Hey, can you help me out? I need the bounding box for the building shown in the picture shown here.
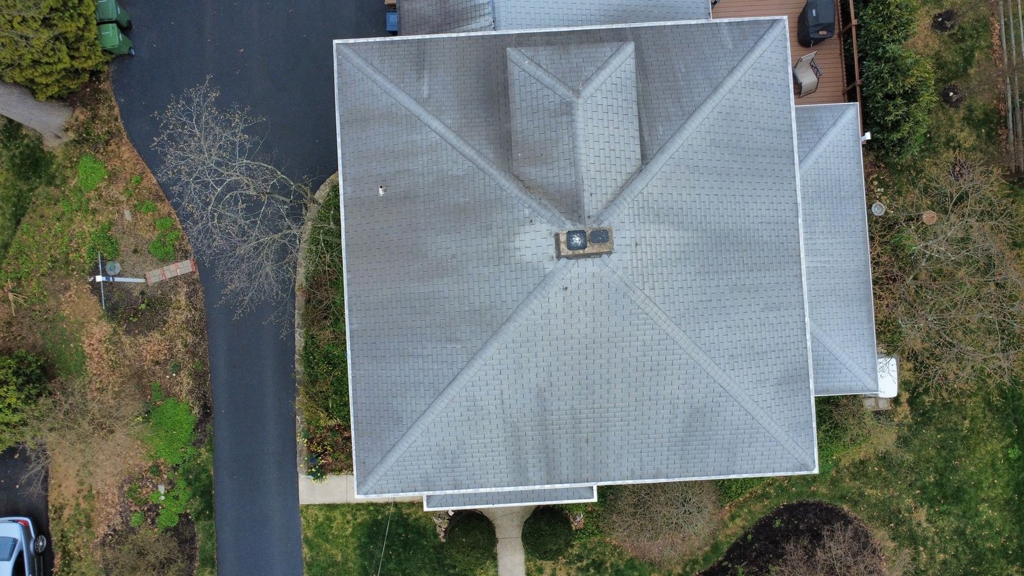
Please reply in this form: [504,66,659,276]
[335,0,878,510]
